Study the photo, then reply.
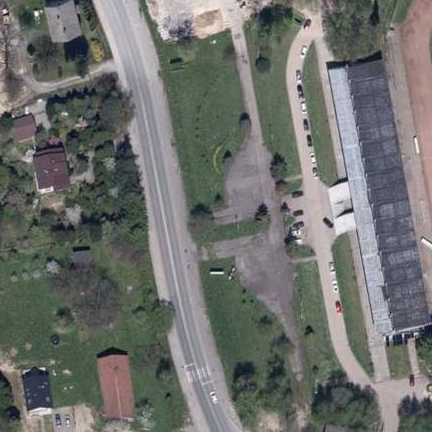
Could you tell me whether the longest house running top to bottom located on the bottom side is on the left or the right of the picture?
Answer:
left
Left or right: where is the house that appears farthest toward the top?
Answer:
left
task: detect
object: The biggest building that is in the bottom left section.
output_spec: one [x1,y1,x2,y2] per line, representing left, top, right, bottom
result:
[98,355,134,421]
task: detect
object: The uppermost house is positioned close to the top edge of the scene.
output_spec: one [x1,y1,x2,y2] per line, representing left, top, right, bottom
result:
[45,0,81,46]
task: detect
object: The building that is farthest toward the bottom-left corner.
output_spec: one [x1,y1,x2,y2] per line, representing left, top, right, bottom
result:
[23,371,52,412]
